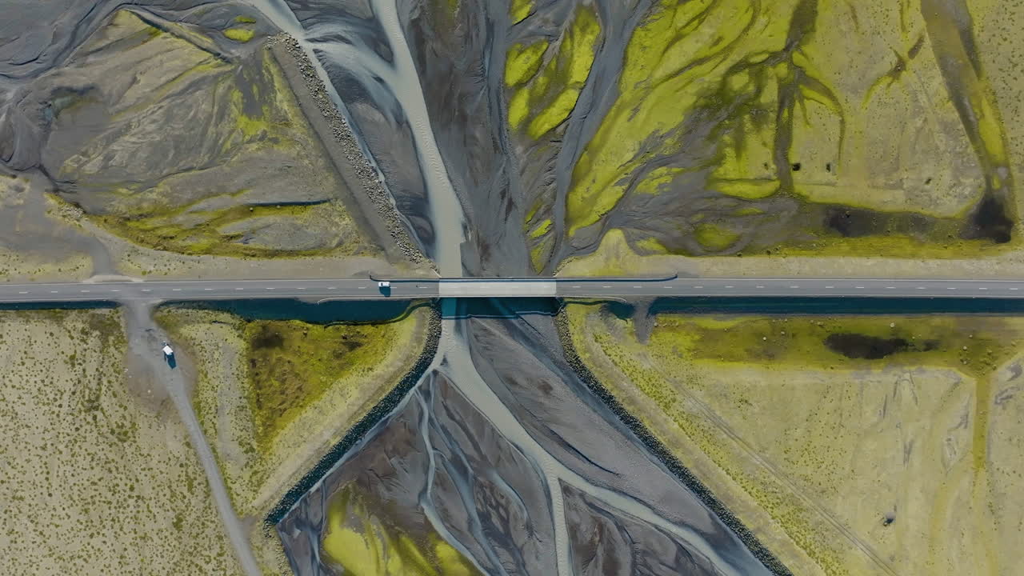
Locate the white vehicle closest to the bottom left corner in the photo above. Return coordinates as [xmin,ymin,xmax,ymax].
[161,342,174,356]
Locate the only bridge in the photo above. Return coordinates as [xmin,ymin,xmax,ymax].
[433,270,556,297]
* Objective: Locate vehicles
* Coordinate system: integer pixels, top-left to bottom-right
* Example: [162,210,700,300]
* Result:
[161,342,174,356]
[378,282,390,287]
